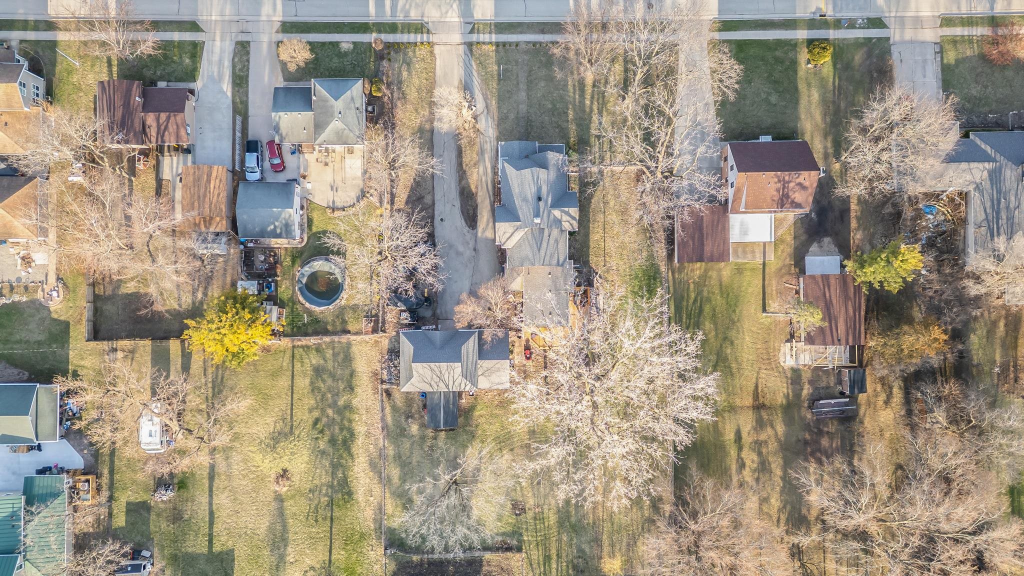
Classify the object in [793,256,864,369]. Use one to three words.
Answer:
building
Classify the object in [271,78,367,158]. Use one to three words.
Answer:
house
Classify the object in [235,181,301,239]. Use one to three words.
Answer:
building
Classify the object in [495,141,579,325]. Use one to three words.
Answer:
house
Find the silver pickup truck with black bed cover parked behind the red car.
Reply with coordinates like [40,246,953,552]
[240,140,262,181]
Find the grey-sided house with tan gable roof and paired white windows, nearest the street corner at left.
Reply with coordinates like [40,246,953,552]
[0,47,61,155]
